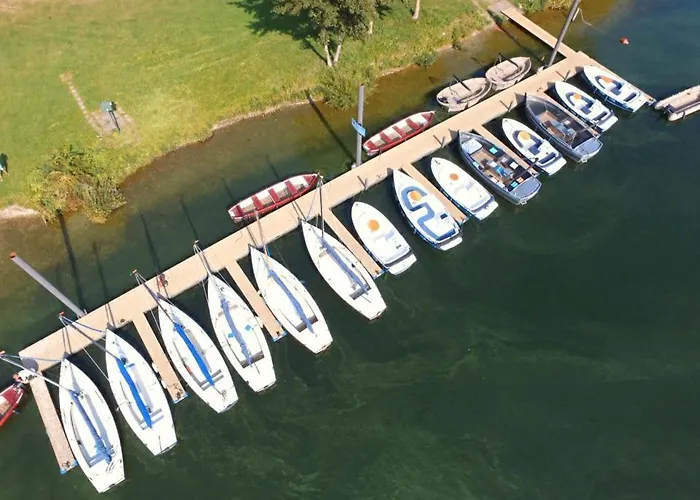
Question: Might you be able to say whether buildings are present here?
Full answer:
No, the picture doesn't show any building.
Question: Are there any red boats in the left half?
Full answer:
Yes, a red boat is visible in the left half.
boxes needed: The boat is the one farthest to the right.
[653,88,700,120]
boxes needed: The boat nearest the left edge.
[0,384,21,428]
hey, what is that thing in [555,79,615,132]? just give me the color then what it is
white boat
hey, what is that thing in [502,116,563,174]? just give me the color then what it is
white boat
